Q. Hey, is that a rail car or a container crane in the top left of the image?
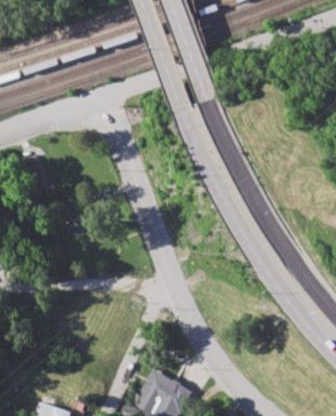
rail car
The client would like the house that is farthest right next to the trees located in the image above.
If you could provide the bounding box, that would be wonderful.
[137,370,191,416]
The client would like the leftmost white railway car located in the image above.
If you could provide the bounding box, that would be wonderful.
[0,70,22,84]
